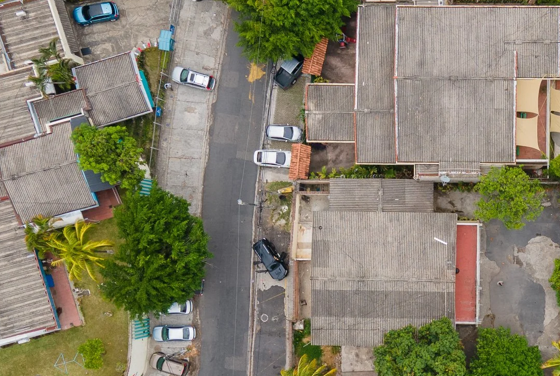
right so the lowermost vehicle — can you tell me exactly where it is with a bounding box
[150,352,192,376]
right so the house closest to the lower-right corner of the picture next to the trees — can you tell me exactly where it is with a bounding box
[312,180,483,346]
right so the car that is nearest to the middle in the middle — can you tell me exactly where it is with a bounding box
[254,149,292,168]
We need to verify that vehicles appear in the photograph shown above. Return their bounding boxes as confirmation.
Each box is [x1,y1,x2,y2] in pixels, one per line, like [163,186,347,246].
[254,149,292,168]
[174,66,218,92]
[249,237,289,280]
[150,352,192,376]
[155,324,198,343]
[268,51,307,93]
[157,300,198,317]
[266,124,304,143]
[75,2,122,25]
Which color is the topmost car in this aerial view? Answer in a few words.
blue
